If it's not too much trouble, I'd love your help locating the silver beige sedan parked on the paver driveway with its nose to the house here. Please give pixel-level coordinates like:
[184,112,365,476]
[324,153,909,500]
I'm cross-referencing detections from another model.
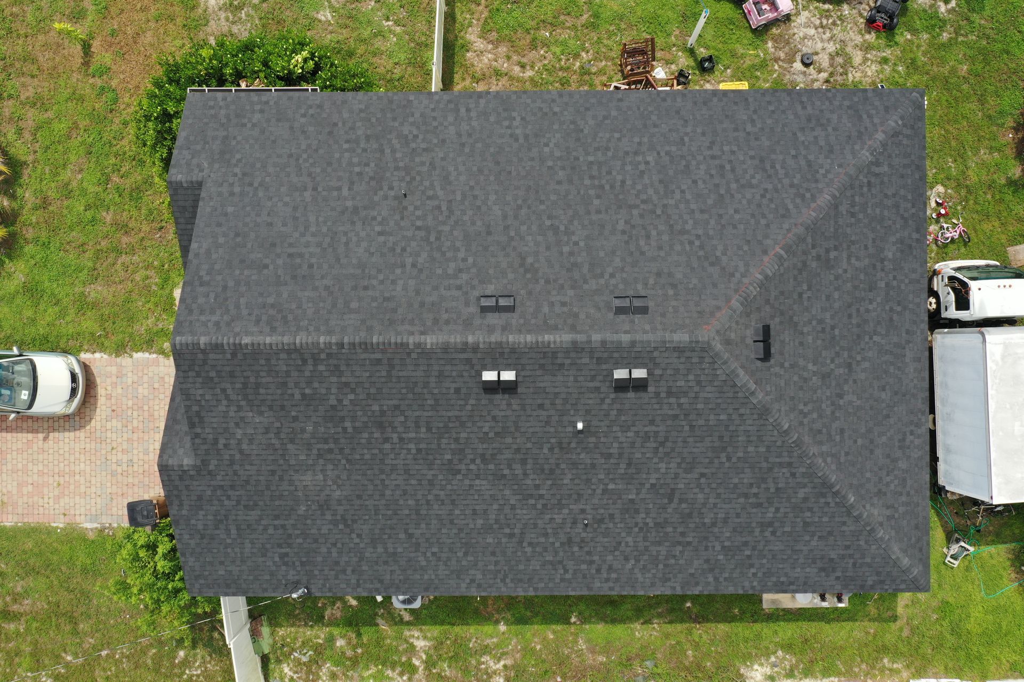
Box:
[0,344,85,424]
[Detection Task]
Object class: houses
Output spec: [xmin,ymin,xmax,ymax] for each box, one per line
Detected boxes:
[158,85,931,608]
